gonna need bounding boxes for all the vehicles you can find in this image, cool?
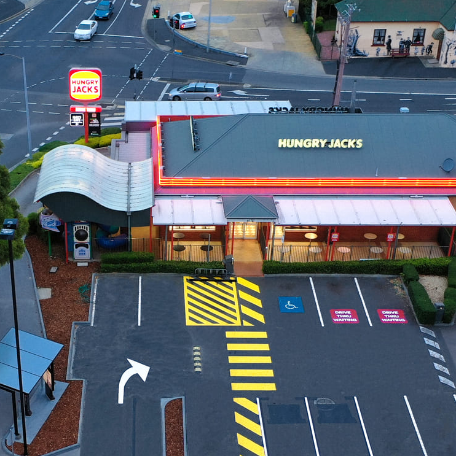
[169,10,199,29]
[168,78,222,102]
[90,0,115,19]
[71,18,100,38]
